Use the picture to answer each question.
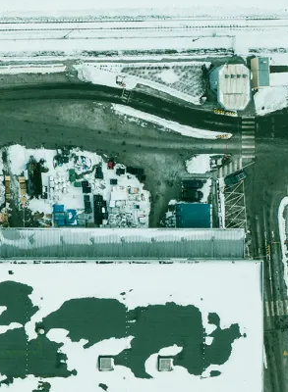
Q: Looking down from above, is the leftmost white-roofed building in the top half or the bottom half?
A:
top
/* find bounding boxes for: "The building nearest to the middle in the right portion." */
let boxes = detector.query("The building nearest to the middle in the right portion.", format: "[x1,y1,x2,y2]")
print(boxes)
[171,204,211,227]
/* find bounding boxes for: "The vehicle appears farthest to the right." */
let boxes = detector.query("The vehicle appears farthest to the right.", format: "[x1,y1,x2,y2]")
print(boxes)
[221,170,247,185]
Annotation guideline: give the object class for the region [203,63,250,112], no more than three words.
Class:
building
